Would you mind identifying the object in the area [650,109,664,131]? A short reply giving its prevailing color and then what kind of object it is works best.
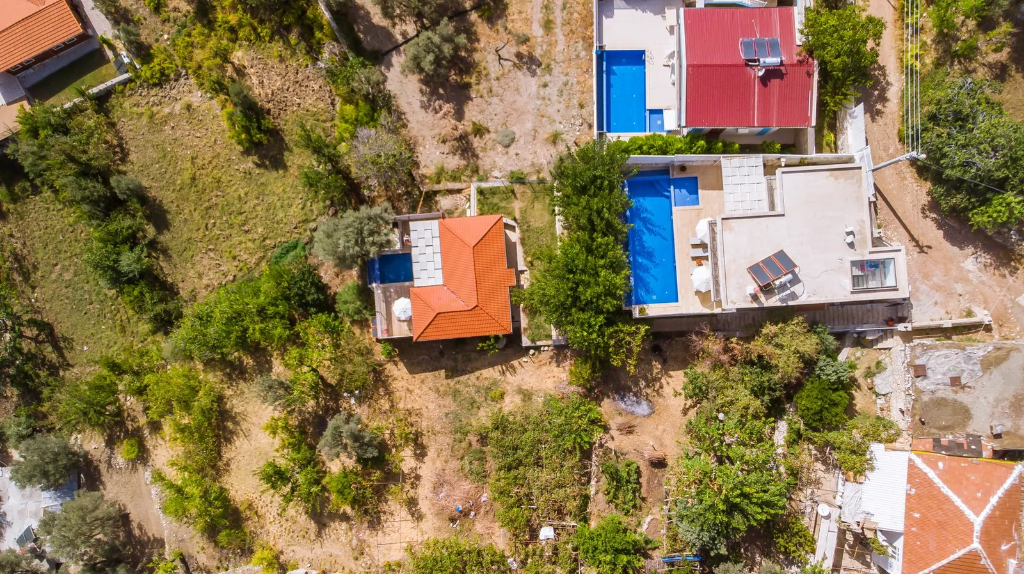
blue swimming pool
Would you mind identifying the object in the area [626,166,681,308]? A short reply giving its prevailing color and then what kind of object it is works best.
blue swimming pool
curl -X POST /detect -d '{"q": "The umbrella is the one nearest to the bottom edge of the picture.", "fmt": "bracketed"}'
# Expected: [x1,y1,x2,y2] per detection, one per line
[391,298,412,321]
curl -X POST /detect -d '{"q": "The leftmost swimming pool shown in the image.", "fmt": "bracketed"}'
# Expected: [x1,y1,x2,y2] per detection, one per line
[376,251,414,288]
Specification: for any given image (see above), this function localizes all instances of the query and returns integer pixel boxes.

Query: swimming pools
[602,46,650,135]
[650,109,664,131]
[674,175,701,209]
[626,166,681,308]
[376,251,414,288]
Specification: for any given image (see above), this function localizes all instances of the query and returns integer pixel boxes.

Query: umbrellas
[391,298,412,321]
[690,217,715,244]
[690,266,711,293]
